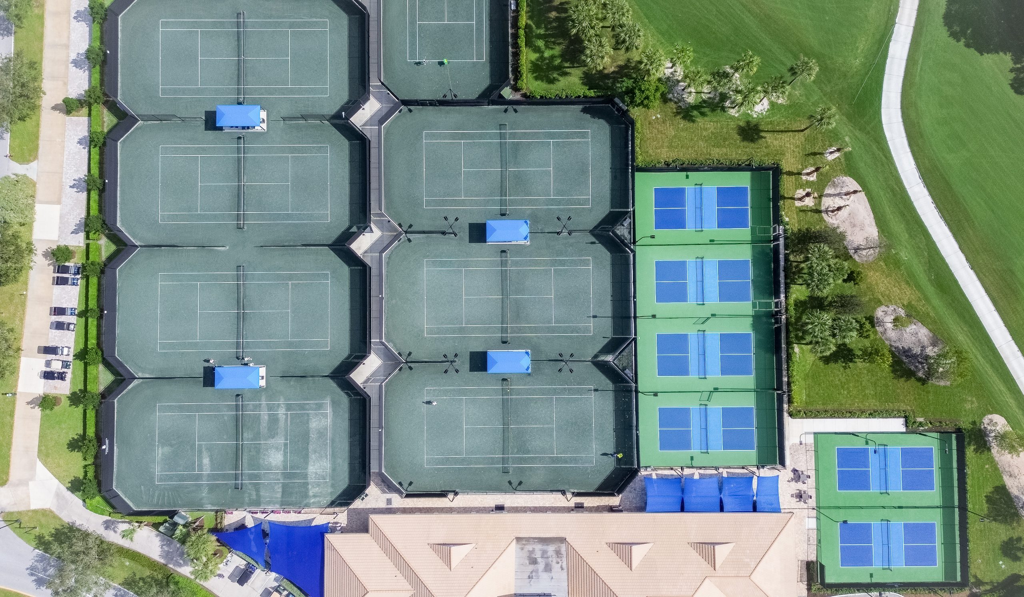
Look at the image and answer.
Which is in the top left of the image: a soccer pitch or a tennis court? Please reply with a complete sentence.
Looking in the top left of the image, you will find a tennis court.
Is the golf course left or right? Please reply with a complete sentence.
You can find the golf course on the right side of the picture.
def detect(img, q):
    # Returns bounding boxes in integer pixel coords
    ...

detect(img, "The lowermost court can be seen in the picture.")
[817,509,960,583]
